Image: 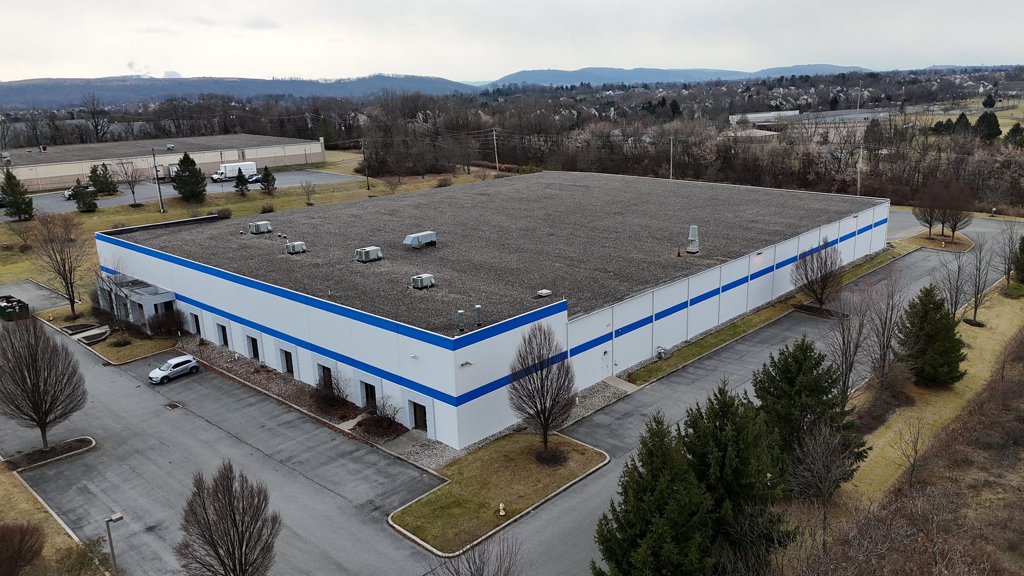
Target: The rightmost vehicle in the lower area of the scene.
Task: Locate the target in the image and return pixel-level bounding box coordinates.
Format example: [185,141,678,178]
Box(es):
[148,356,201,385]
